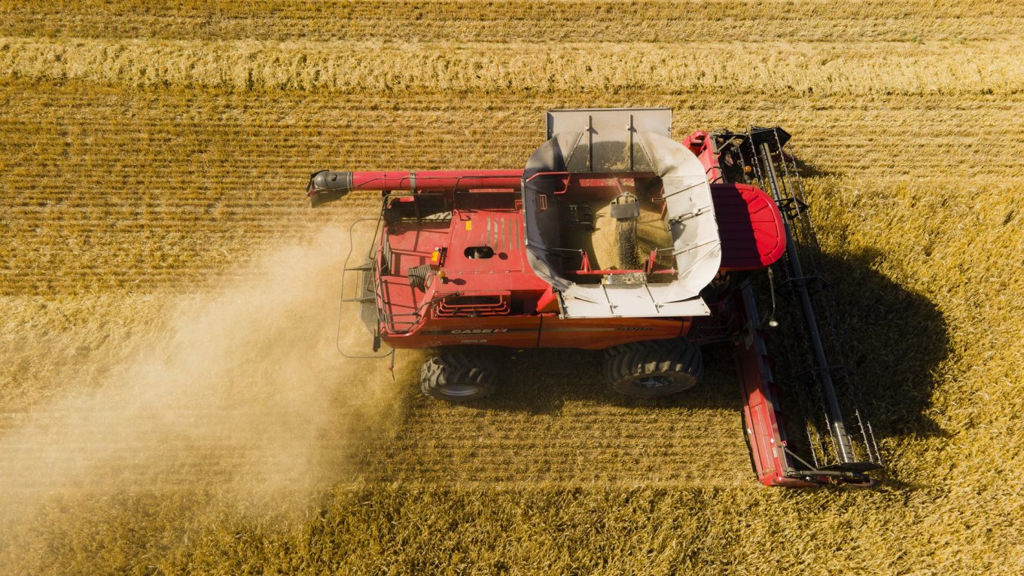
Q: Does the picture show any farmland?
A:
Yes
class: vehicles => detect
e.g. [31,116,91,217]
[307,108,891,487]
